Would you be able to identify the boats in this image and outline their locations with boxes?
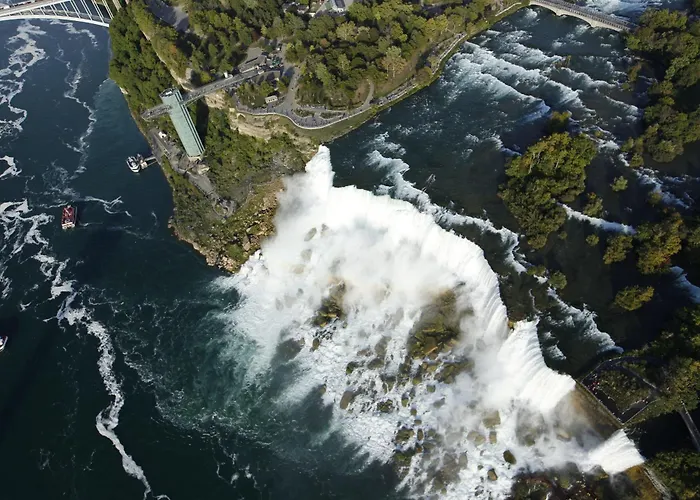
[0,333,11,350]
[124,155,141,173]
[61,205,77,228]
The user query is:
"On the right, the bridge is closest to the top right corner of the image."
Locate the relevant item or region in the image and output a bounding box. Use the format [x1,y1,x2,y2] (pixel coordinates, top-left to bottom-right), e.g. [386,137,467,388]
[516,0,654,44]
